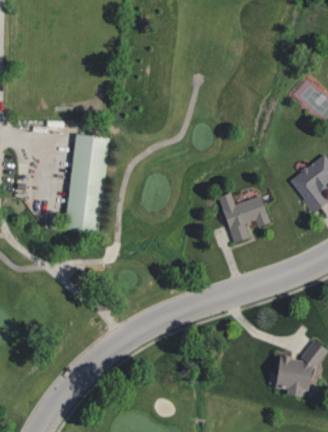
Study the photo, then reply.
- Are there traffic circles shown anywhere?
No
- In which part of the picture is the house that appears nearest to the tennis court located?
right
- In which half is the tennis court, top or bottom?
top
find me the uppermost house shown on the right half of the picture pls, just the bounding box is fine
[293,156,328,212]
